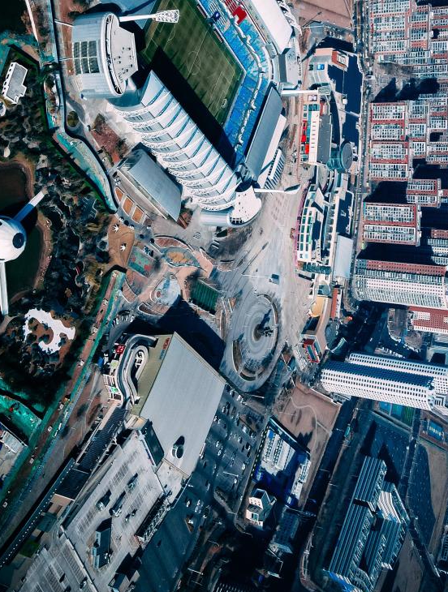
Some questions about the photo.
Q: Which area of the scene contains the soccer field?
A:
top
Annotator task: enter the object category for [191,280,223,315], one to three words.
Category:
sports court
